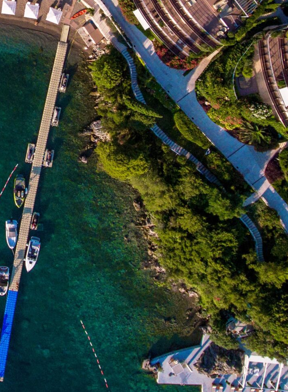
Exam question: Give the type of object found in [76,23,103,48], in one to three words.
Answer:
shed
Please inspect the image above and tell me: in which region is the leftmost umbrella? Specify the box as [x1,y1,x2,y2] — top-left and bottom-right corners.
[0,0,17,14]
